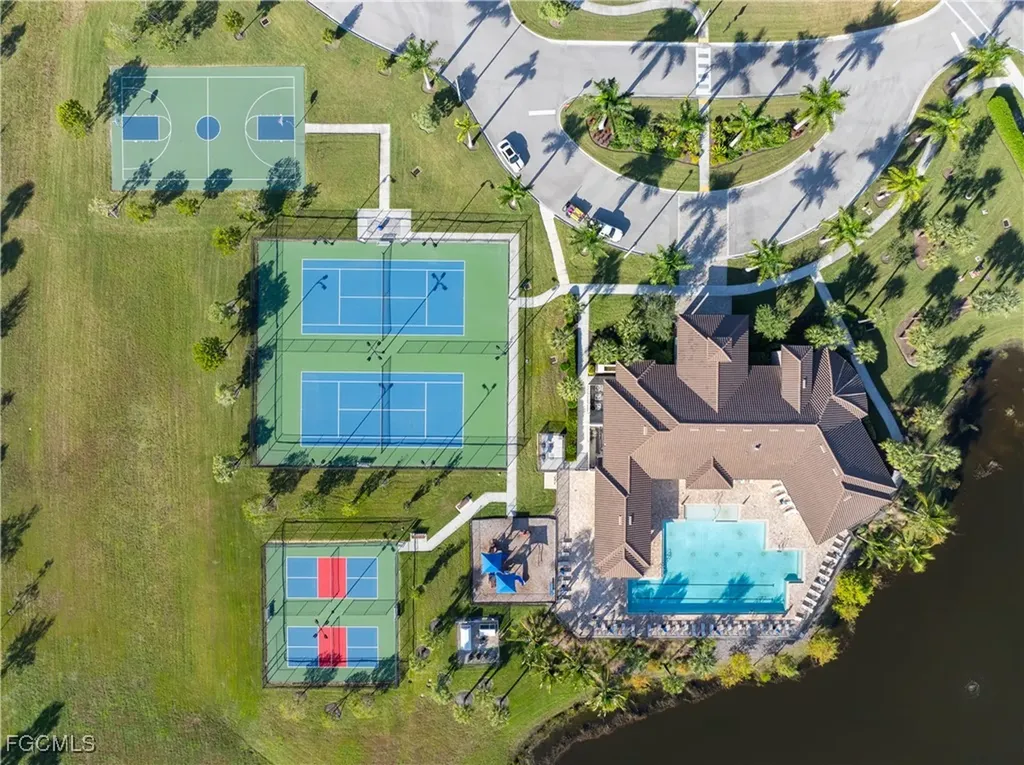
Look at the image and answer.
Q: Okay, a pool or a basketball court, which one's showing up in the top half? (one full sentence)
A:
There is a basketball court in the top half.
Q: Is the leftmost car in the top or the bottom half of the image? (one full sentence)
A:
Seen from above, the leftmost car lies in the top half of the view.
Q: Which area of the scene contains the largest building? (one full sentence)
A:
You can find the largest building in the right area of the picture.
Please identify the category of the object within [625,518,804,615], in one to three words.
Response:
swimming pool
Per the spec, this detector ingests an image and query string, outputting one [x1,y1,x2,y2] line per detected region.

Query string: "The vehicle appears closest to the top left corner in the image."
[498,138,525,170]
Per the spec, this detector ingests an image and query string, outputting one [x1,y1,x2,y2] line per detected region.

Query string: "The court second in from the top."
[257,240,506,354]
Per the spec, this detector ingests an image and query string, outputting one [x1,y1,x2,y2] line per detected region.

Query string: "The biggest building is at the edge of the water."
[594,314,897,578]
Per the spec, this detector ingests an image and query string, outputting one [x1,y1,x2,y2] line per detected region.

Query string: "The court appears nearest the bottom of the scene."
[265,615,396,683]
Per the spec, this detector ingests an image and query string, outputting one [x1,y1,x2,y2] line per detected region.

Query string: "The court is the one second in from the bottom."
[265,546,397,615]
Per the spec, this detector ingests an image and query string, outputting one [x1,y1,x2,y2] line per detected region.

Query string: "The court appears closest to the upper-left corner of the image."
[110,66,305,190]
